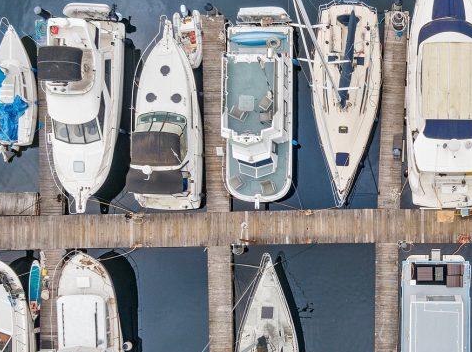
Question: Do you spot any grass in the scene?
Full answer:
No, there's no grass in this view.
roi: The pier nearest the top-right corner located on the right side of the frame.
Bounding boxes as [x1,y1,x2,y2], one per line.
[377,10,408,209]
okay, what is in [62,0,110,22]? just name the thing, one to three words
boat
